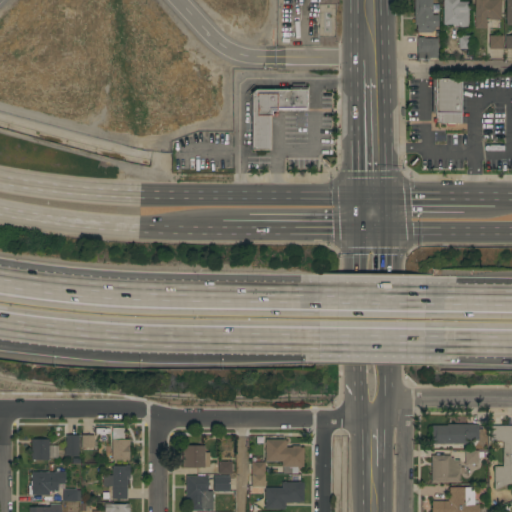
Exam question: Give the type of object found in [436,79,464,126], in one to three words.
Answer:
building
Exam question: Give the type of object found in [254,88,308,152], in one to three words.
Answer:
building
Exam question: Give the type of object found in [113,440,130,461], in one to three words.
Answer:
house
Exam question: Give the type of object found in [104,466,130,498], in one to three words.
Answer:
house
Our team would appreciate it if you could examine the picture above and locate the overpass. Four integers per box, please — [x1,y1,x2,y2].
[310,272,440,364]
